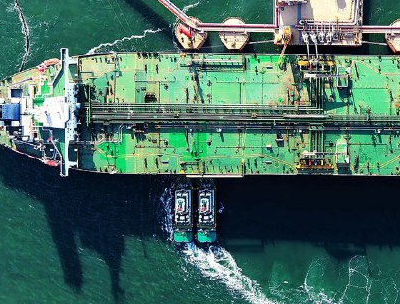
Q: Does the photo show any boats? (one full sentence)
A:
Yes, the frame does contain a boat.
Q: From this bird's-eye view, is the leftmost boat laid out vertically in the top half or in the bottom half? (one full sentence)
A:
Seen from above, the leftmost boat laid out vertically lies in the bottom half of the view.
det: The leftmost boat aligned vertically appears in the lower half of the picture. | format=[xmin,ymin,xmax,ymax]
[173,175,195,245]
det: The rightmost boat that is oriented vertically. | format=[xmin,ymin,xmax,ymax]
[196,175,219,244]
